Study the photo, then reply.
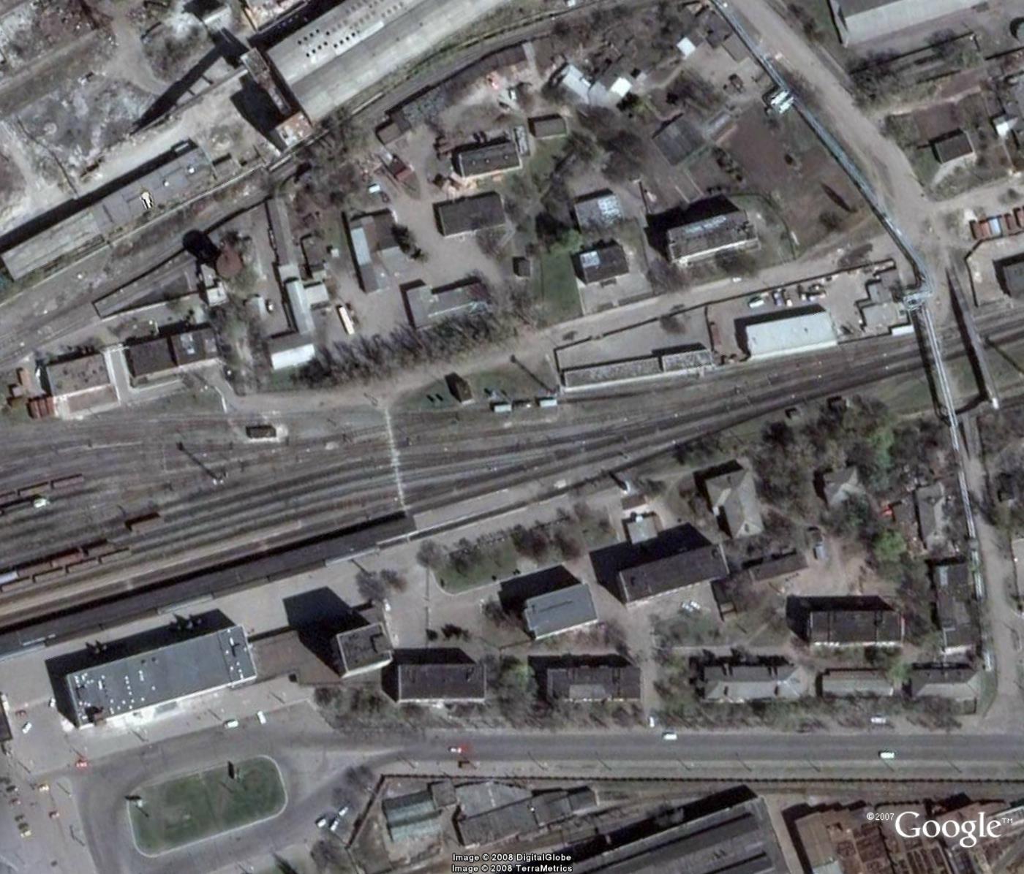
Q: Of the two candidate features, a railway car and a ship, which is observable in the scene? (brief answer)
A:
railway car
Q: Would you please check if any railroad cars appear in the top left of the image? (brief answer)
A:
No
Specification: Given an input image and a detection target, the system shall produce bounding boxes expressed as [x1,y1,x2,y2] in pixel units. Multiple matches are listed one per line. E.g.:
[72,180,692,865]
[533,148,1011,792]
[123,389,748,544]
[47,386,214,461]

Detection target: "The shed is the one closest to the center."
[454,374,473,403]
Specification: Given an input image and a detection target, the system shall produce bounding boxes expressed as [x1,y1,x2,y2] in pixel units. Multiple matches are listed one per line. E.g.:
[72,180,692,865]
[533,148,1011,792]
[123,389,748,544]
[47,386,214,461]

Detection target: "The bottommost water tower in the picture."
[214,252,242,280]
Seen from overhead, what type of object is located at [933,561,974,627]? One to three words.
house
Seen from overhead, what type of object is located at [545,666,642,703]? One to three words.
building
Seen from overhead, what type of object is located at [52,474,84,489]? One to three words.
rail car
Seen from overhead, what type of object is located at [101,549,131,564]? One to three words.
rail car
